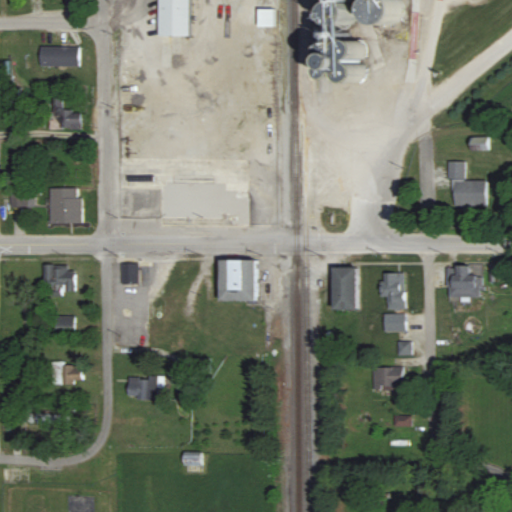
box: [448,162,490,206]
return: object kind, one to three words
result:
house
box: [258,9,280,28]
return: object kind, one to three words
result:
shed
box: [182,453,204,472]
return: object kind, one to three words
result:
barn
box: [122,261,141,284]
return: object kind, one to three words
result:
building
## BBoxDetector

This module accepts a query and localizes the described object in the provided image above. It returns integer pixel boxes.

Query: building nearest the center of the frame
[218,260,260,301]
